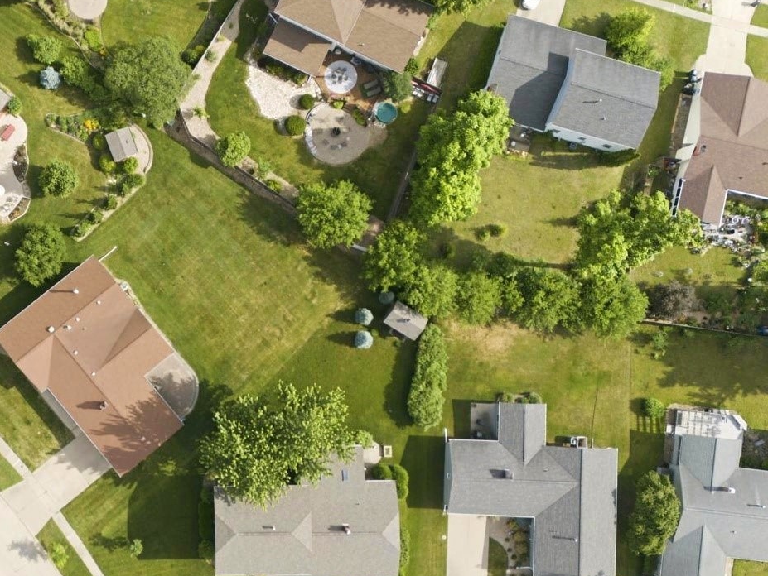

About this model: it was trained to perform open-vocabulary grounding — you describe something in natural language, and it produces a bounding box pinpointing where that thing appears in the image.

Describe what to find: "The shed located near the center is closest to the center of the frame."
[381,301,427,342]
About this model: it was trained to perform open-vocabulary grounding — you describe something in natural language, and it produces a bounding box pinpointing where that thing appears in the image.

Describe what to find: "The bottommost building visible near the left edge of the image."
[0,252,184,477]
